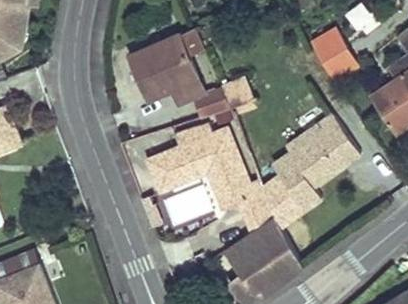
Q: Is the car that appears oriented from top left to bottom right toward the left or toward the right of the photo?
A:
right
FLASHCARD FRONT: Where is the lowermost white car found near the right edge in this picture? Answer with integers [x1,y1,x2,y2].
[394,256,408,272]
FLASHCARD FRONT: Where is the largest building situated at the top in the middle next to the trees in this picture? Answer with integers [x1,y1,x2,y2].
[128,28,206,106]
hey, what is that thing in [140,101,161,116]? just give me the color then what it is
white car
